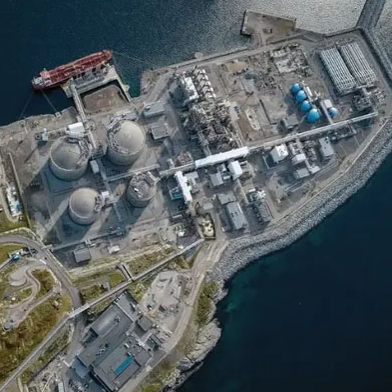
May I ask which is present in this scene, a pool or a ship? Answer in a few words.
ship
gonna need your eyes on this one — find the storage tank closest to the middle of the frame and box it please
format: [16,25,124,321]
[125,171,156,206]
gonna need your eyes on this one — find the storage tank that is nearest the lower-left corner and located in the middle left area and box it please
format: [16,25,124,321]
[66,187,105,223]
